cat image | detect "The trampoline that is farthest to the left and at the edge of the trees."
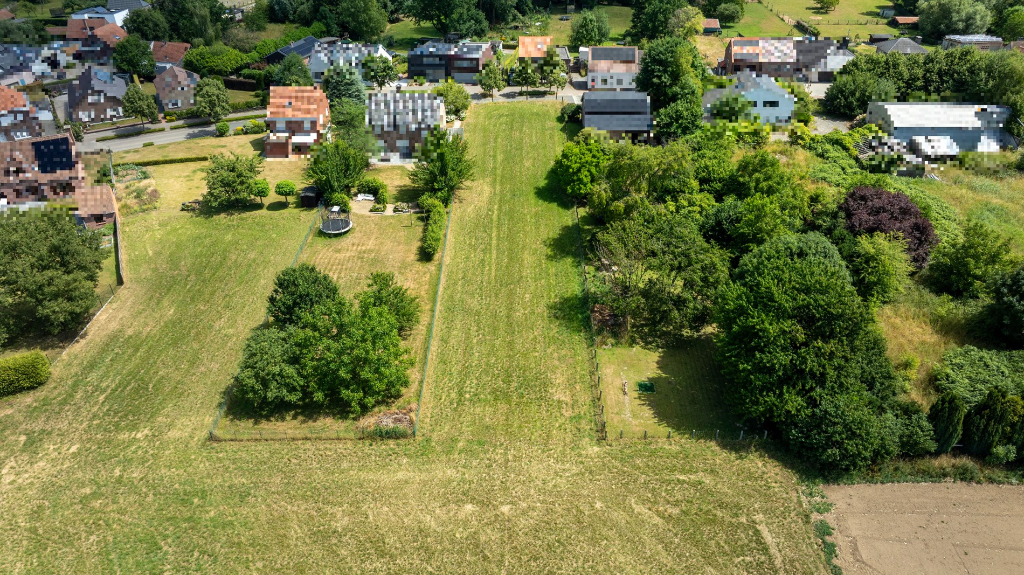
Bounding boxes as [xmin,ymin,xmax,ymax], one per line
[315,203,353,238]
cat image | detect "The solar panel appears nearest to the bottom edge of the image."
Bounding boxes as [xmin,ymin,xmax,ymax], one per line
[31,129,78,168]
